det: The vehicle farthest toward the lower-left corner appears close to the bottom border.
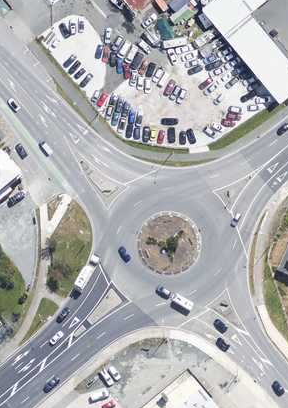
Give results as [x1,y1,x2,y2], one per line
[44,378,60,392]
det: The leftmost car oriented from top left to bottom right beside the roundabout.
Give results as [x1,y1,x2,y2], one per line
[118,247,132,264]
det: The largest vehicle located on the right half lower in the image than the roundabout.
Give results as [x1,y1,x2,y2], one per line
[170,295,196,316]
